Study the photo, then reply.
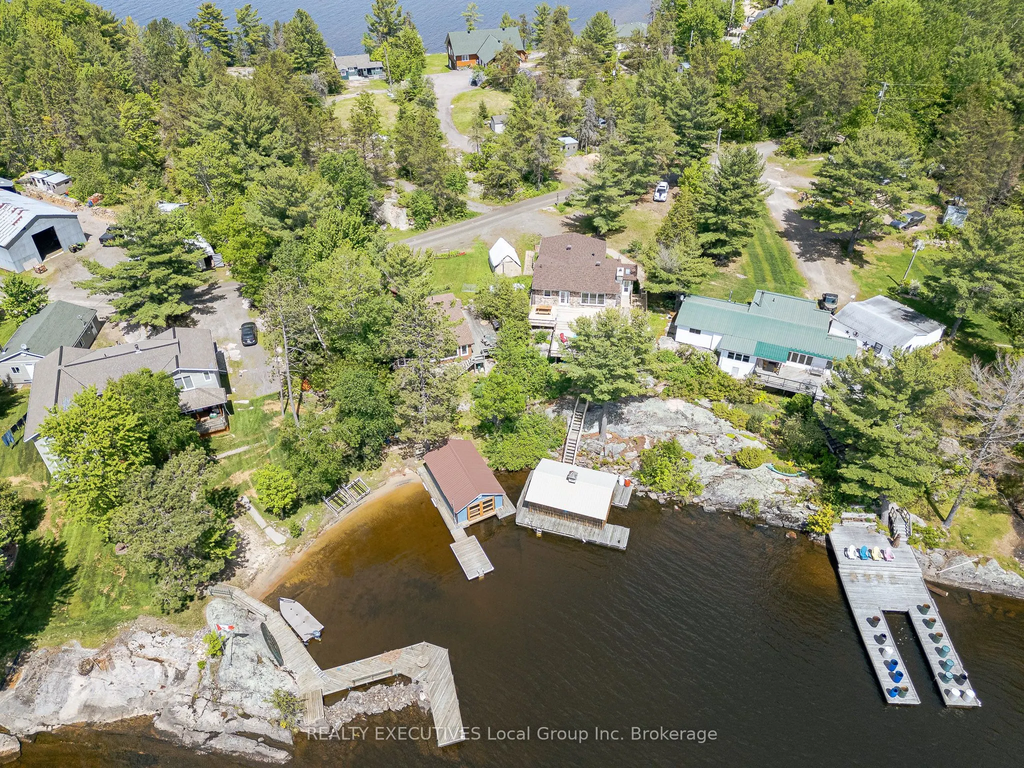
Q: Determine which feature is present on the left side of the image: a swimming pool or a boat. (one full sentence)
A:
The feature located on the left side of the image is a boat.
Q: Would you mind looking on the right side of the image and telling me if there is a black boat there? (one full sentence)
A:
No, on the right side of the image there is no black boat.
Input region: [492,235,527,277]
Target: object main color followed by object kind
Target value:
white tent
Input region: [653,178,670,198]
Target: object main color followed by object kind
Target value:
white car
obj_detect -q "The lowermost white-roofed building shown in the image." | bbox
[525,460,620,530]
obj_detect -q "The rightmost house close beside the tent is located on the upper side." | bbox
[527,228,639,364]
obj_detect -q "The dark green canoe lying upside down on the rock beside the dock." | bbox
[261,620,283,665]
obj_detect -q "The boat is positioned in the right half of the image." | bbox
[766,460,805,476]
